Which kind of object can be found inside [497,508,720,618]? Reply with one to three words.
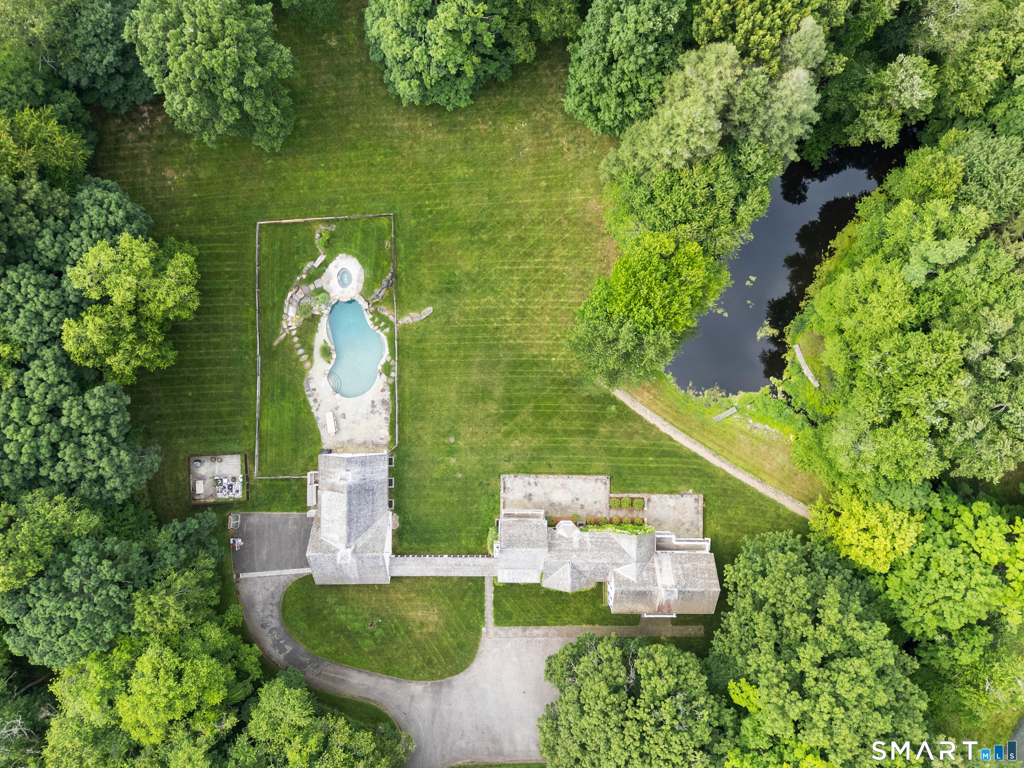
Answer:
house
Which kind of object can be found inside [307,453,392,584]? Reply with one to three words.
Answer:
building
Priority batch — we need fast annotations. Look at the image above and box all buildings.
[307,453,392,584]
[497,508,720,618]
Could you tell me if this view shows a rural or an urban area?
rural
